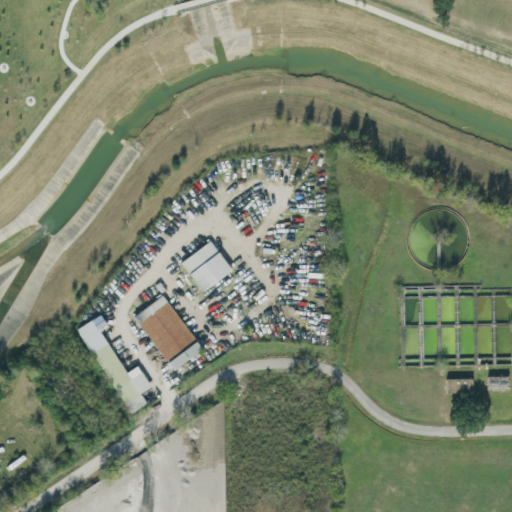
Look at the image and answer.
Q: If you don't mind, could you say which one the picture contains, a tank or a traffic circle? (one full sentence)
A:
I can see a tank in this picture.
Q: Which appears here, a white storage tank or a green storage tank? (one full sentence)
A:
Visible in the photo is a green storage tank.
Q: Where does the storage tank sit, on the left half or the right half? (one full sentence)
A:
The storage tank sits on the right side.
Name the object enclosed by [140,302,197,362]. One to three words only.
building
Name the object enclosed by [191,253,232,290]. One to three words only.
building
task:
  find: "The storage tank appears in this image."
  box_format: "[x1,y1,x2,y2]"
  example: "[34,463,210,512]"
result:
[408,208,470,270]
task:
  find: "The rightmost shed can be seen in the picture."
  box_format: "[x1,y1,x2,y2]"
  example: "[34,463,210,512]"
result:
[488,378,510,392]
